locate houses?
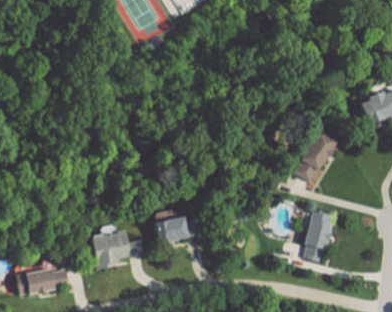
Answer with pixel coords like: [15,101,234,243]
[364,92,392,123]
[166,218,194,242]
[304,212,334,264]
[93,230,142,270]
[296,134,338,183]
[17,270,69,298]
